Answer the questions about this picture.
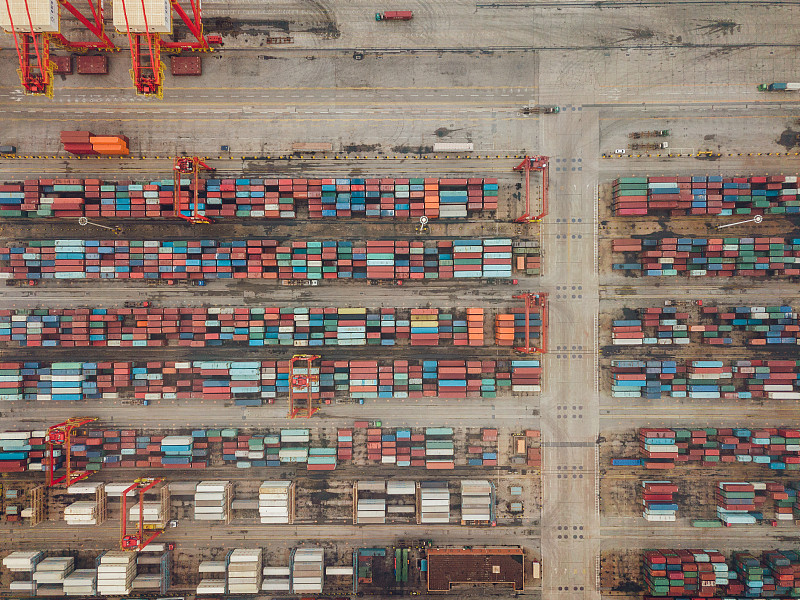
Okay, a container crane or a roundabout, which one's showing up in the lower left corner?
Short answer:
container crane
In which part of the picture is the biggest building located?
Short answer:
bottom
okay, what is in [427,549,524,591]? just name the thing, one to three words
building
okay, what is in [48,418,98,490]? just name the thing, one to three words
container crane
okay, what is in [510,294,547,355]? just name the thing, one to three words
container crane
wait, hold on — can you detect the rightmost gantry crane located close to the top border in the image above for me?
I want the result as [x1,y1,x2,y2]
[113,0,221,108]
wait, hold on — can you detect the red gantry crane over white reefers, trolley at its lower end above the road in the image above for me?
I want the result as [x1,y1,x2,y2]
[121,477,166,555]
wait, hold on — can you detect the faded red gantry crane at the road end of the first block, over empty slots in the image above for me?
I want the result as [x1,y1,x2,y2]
[512,153,548,224]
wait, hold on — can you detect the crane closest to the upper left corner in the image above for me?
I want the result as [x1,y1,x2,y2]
[0,0,127,108]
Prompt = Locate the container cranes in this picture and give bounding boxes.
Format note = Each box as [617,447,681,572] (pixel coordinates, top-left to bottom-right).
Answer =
[176,154,216,224]
[0,0,127,108]
[48,418,98,490]
[288,353,321,421]
[510,294,547,355]
[512,153,548,224]
[113,0,221,108]
[121,477,166,555]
